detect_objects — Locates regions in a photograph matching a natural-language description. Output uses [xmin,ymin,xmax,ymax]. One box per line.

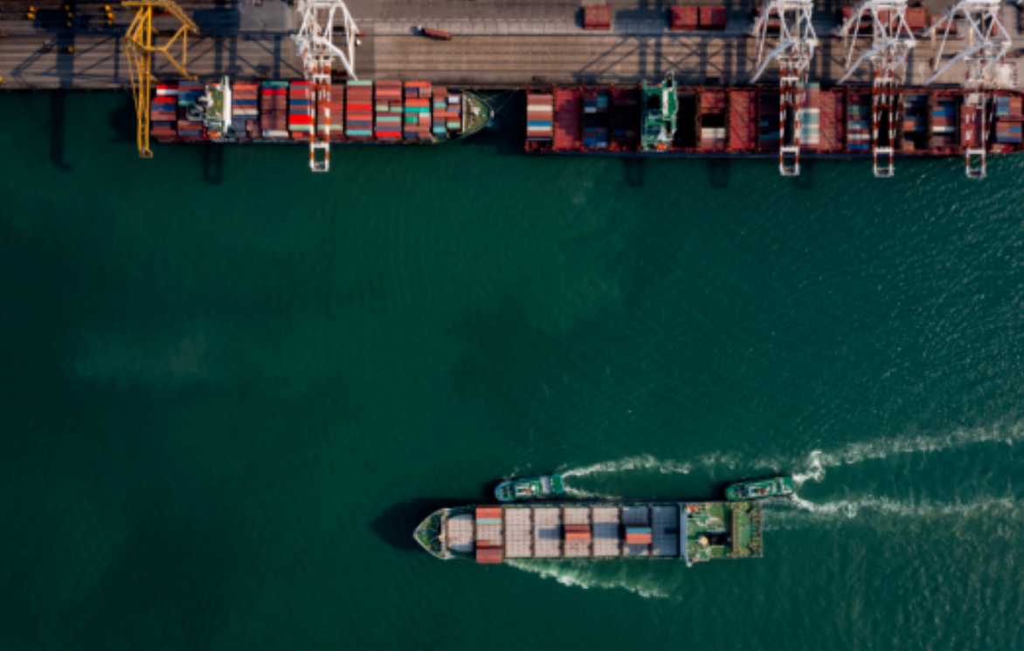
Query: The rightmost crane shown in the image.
[916,0,1020,178]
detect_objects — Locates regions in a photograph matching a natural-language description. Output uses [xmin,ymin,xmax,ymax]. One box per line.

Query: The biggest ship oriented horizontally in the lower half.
[413,500,762,568]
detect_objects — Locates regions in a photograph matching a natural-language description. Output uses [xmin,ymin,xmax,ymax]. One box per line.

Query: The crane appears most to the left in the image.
[118,0,198,160]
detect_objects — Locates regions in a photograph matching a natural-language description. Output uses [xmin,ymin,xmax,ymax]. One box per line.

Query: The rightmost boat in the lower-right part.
[725,474,795,502]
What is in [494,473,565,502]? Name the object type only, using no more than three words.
boat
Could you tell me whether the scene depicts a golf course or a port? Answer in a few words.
port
